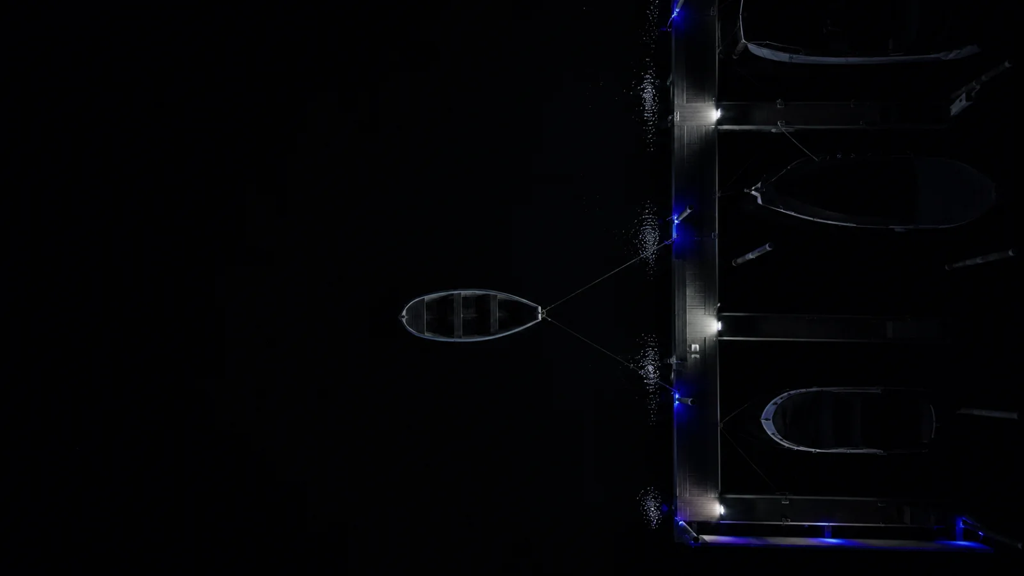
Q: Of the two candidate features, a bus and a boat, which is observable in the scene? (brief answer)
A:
boat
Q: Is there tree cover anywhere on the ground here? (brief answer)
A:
No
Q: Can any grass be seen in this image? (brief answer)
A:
No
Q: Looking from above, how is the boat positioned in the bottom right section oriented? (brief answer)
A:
horizontally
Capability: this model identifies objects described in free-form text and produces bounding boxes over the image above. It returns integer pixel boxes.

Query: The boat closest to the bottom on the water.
[760,386,935,454]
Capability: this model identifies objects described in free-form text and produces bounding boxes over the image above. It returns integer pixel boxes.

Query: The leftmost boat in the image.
[399,288,542,343]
